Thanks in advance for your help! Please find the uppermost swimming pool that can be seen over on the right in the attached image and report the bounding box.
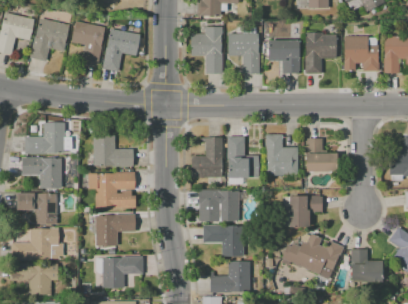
[310,174,332,186]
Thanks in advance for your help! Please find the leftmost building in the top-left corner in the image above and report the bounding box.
[0,11,32,60]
